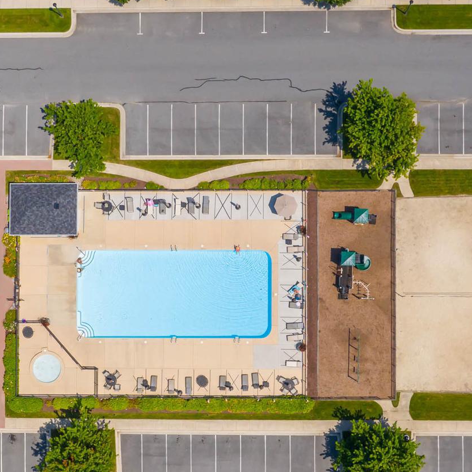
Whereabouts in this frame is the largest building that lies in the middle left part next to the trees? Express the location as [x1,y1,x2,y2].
[9,183,81,237]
